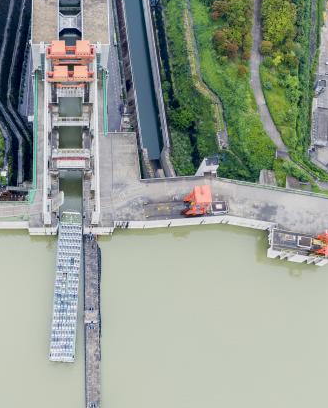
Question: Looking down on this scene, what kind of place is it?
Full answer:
It's a port.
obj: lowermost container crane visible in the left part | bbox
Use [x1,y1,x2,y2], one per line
[42,63,99,97]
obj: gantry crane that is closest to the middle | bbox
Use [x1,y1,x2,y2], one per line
[181,184,217,211]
